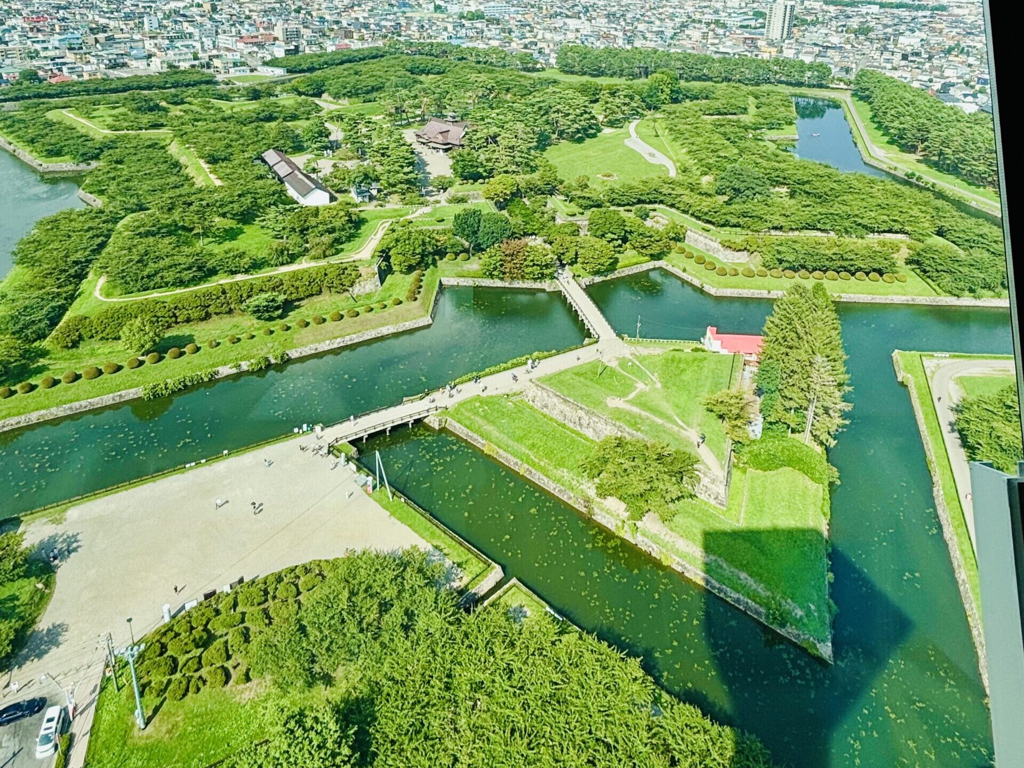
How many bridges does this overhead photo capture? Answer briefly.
2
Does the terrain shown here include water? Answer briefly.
Yes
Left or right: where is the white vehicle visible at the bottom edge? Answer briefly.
left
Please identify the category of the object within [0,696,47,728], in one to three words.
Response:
car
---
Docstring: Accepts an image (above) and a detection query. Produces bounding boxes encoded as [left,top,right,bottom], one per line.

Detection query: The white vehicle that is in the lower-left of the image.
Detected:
[37,705,67,760]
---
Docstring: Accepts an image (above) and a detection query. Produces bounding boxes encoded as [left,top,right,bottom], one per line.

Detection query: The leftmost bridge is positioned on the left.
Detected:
[307,386,456,453]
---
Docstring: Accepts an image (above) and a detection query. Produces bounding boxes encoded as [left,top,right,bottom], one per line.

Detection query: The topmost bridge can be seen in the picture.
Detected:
[558,275,618,341]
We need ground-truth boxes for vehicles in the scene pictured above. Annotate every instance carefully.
[37,705,67,760]
[0,696,47,728]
